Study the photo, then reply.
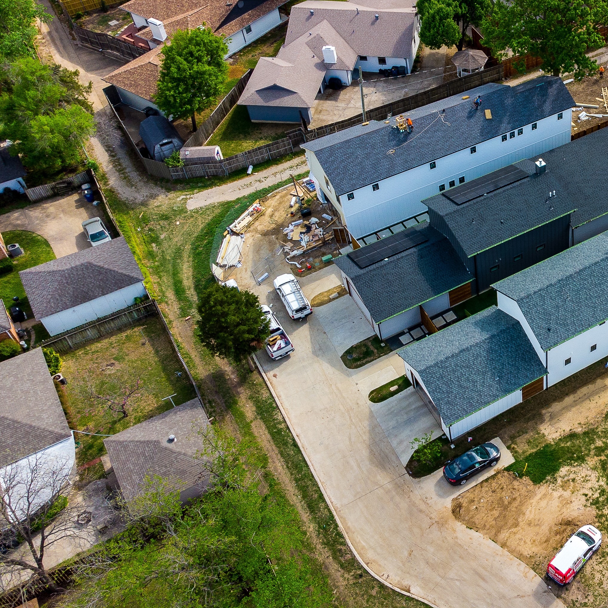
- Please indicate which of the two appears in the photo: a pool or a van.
van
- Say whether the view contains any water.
No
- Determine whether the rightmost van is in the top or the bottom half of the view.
bottom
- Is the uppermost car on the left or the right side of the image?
left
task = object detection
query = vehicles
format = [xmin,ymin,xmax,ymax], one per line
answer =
[268,269,313,321]
[82,217,112,247]
[546,525,602,587]
[440,440,503,486]
[257,303,294,360]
